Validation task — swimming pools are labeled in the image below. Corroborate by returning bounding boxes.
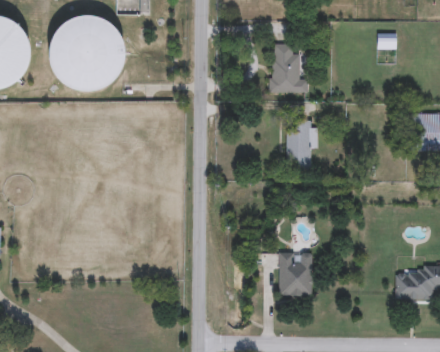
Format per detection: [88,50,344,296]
[292,218,318,252]
[402,226,431,245]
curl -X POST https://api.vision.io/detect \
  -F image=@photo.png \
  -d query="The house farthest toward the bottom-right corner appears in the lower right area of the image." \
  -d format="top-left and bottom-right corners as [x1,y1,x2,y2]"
[396,264,440,299]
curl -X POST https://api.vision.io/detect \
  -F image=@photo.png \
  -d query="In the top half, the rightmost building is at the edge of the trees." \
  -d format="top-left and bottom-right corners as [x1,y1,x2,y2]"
[418,114,440,152]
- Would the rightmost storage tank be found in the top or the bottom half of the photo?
top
